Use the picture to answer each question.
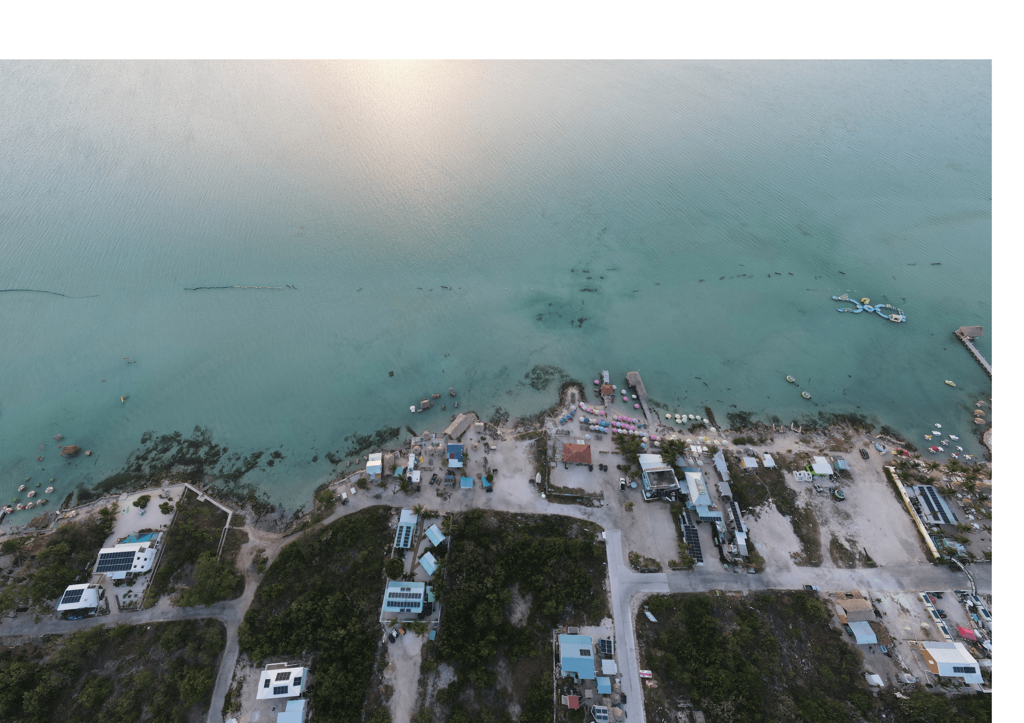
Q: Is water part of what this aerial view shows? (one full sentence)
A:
Yes, water can be seen from above here.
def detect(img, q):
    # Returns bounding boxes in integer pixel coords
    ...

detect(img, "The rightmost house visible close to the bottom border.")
[909,642,985,691]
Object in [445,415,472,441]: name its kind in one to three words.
building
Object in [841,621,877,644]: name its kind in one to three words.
building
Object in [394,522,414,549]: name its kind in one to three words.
house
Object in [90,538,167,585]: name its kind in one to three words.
house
